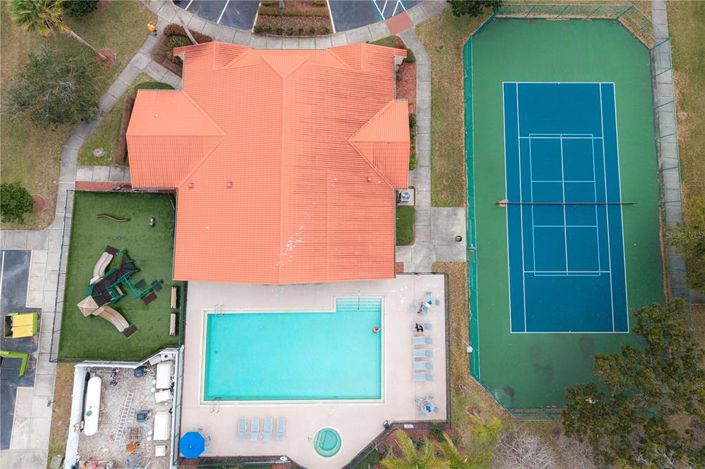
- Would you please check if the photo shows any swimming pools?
Yes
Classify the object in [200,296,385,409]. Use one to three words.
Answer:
swimming pool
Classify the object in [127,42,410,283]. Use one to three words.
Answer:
building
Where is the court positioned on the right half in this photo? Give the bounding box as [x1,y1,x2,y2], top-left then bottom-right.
[467,18,669,408]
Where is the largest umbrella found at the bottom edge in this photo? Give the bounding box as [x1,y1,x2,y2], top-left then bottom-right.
[178,432,204,458]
